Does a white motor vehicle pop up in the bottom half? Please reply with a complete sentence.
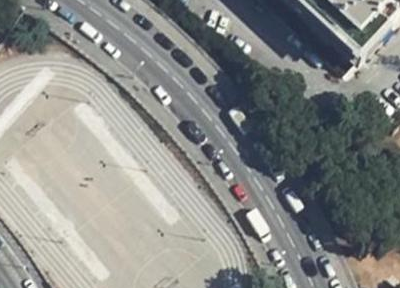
Yes, a white motor vehicle appears in the bottom half.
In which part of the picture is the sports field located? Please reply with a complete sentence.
The sports field is in the left part of the image.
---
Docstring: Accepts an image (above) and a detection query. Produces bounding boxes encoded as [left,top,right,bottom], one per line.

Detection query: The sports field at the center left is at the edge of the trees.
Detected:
[0,68,178,280]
